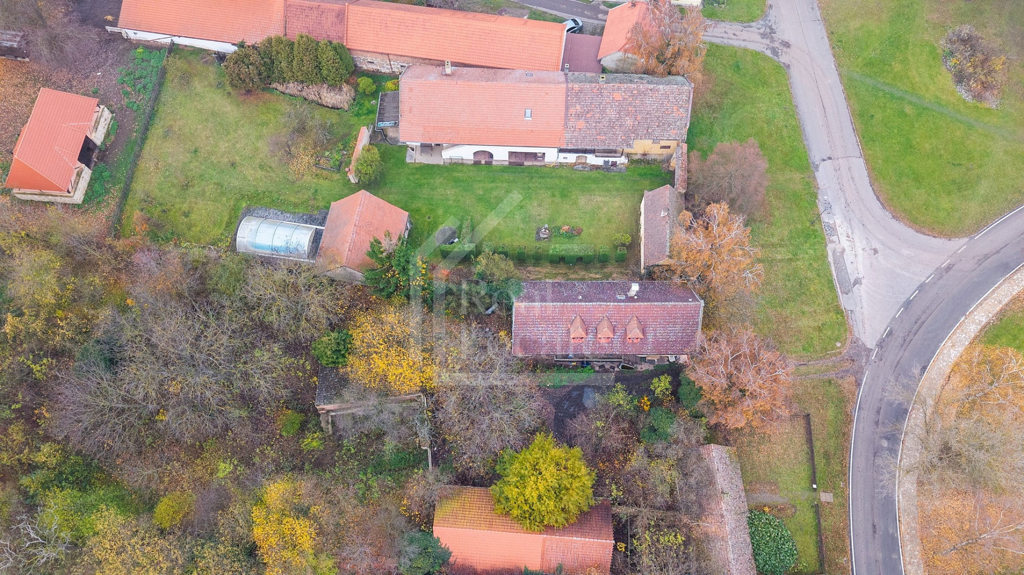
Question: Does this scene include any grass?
Yes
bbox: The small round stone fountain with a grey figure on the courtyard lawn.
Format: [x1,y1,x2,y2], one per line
[534,221,553,242]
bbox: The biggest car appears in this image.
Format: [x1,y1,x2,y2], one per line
[562,13,584,32]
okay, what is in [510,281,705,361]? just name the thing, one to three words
house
